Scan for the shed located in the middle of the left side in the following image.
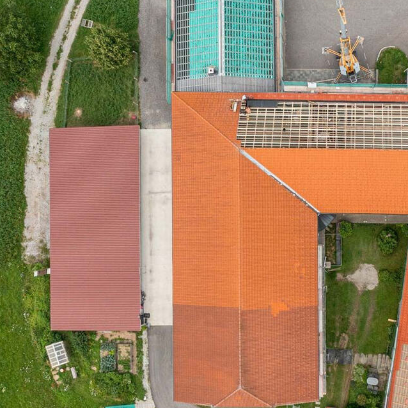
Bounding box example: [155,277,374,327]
[26,125,144,332]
